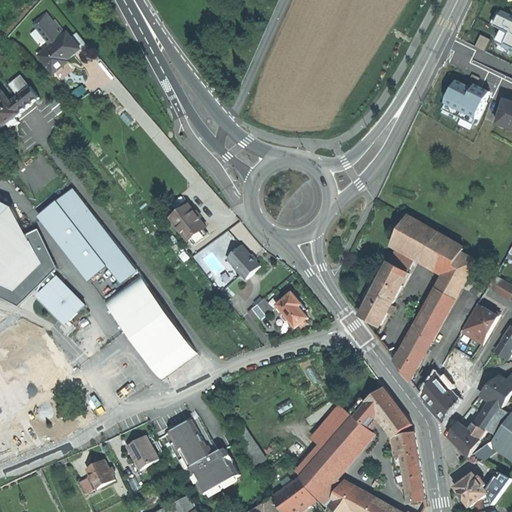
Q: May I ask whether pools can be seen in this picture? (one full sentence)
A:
Yes, looking at the shot, I can spot a pool.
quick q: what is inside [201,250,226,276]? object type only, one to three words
swimming pool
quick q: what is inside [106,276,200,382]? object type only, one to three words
building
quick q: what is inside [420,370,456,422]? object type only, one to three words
house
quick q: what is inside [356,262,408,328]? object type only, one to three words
barn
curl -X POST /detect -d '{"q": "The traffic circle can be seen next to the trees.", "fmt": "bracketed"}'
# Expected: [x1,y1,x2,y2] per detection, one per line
[209,119,394,266]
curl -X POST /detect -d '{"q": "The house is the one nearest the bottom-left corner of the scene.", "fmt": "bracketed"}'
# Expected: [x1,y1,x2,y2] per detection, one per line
[80,459,118,496]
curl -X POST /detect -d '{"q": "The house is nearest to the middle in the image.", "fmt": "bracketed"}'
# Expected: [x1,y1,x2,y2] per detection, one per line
[228,242,260,280]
